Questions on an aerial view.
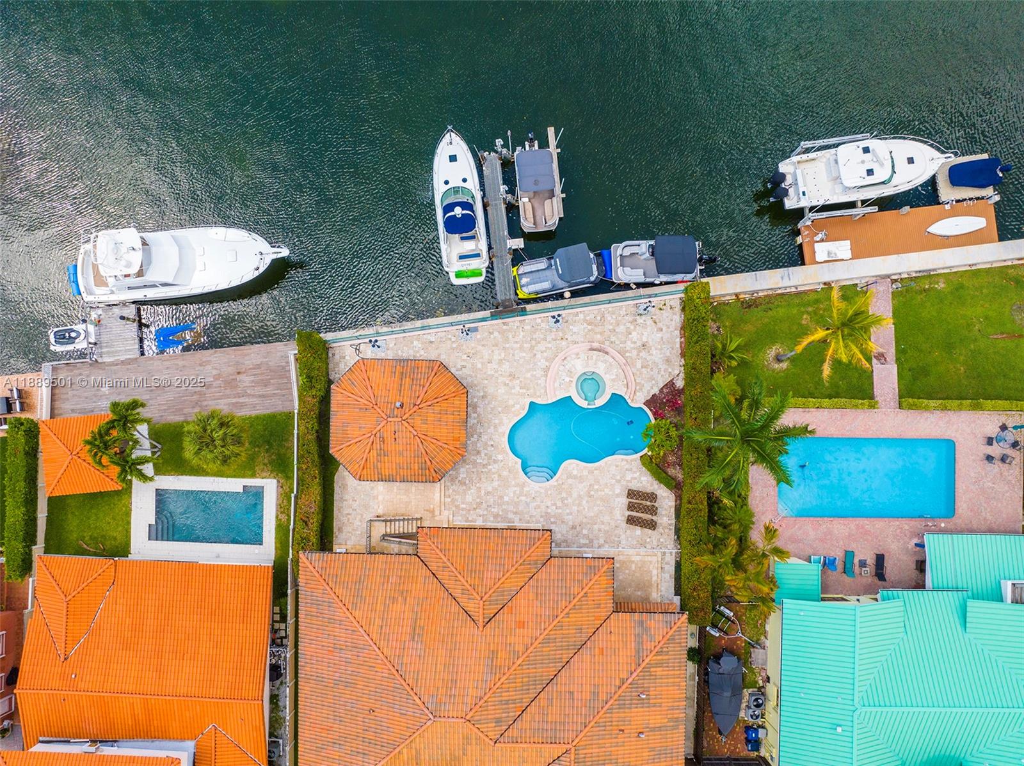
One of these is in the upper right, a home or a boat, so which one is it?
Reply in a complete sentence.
There is a boat in the upper right.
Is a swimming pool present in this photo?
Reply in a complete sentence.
Yes, a swimming pool can be made out from above.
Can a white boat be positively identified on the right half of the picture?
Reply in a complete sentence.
Yes, you'll find a white boat on the right half of the picture.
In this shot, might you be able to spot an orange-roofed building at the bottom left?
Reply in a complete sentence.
Yes, an orange-roofed building is visible at the bottom left.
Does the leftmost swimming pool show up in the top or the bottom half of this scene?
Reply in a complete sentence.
The leftmost swimming pool is in the bottom half of the image.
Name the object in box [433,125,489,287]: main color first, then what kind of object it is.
white boat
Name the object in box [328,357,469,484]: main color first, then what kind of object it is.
orange gazebo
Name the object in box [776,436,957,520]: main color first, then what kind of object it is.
blue swimming pool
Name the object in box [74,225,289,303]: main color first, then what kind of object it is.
white boat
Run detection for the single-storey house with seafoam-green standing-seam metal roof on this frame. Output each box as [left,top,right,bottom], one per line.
[767,531,1024,766]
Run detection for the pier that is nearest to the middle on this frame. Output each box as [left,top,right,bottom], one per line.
[479,153,518,309]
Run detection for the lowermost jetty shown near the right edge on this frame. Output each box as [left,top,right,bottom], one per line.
[798,195,1000,265]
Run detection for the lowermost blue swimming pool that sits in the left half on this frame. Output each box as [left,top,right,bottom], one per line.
[142,480,270,551]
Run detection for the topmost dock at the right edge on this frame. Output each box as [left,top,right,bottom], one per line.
[935,152,993,203]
